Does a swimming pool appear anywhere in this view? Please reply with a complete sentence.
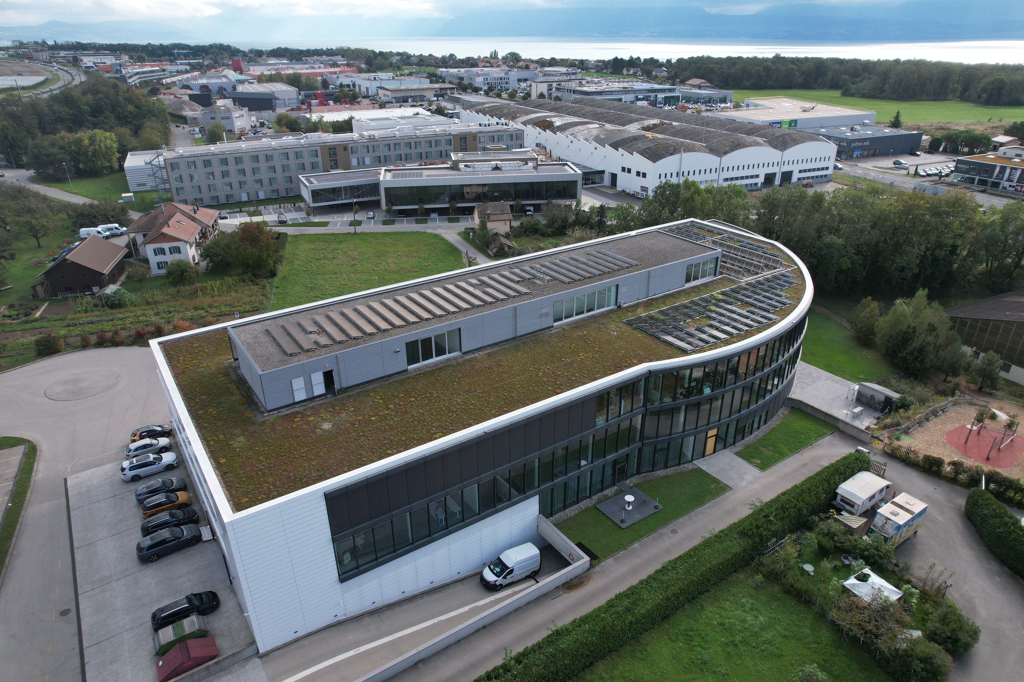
No, the frame has no swimming pool in it.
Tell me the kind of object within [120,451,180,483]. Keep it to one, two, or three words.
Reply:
car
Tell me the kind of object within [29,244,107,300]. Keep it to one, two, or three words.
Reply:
barn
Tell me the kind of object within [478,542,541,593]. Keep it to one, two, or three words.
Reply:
van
